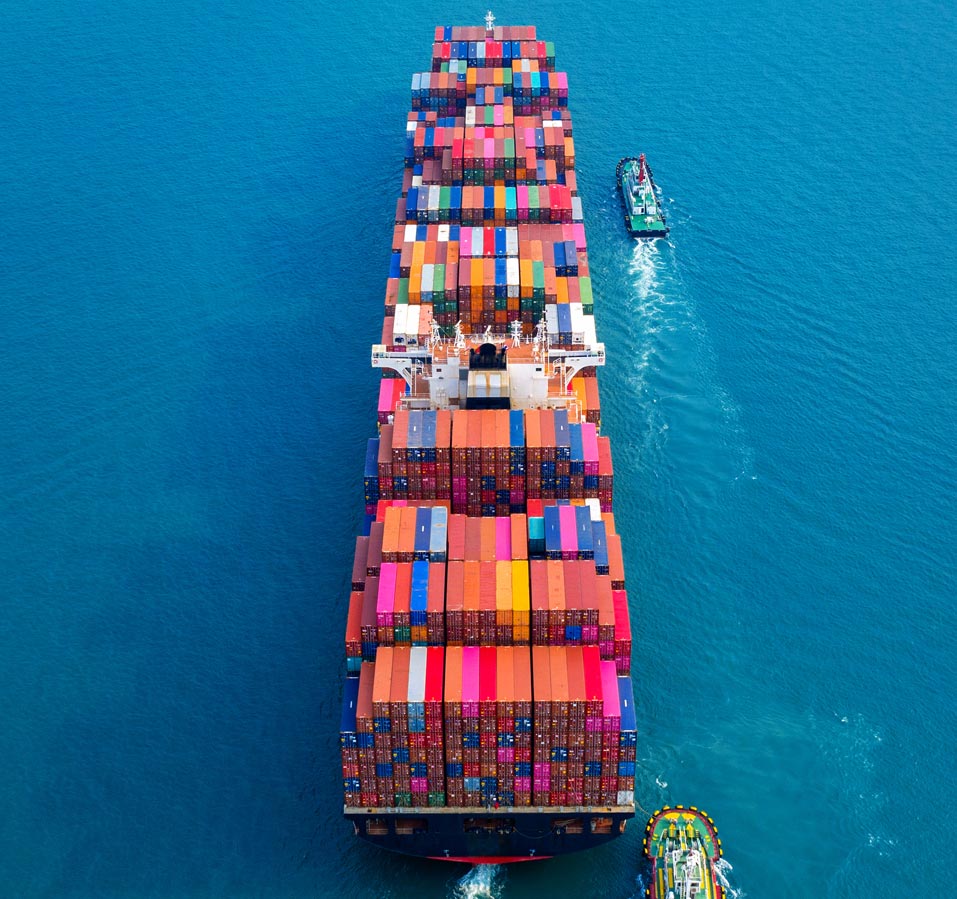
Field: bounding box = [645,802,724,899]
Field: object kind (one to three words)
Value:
boat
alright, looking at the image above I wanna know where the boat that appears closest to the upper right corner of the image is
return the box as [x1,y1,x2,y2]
[616,152,671,240]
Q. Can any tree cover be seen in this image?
No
